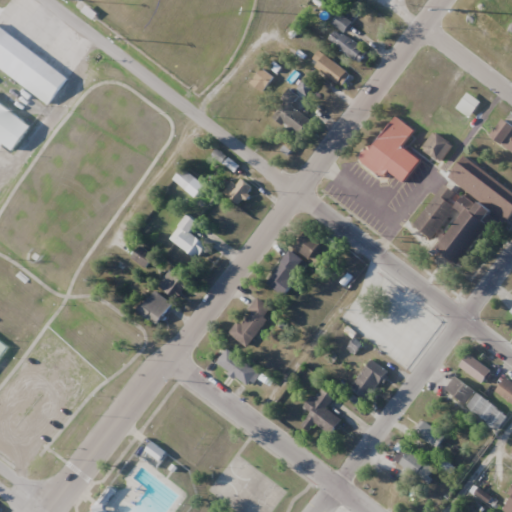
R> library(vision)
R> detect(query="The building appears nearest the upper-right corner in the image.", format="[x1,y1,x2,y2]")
[455,92,480,117]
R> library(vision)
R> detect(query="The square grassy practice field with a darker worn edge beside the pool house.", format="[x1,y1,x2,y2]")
[156,394,223,466]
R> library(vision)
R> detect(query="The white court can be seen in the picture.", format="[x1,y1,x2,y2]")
[210,456,288,512]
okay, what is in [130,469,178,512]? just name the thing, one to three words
swimming pool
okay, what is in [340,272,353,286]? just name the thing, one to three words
vehicle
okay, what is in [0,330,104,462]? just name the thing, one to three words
sports field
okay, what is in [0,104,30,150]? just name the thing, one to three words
building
